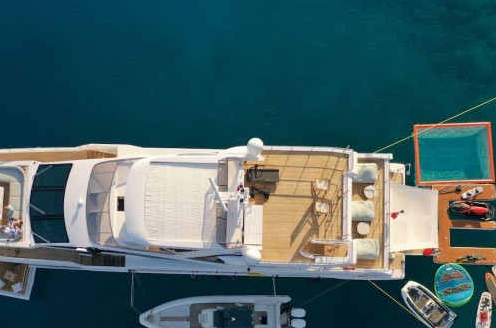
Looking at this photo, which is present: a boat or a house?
boat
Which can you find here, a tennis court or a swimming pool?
swimming pool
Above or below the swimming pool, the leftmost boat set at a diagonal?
below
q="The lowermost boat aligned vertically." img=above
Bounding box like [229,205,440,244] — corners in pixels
[477,292,492,328]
